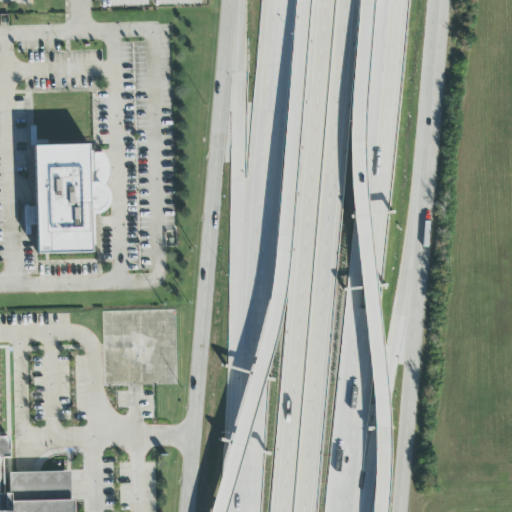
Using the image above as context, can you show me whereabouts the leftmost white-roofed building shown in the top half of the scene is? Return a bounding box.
[25,125,113,252]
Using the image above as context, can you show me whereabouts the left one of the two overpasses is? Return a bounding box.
[212,0,311,512]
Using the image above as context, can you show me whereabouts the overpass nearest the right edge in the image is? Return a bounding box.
[344,0,396,512]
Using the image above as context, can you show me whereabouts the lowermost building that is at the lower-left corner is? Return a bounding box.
[0,470,76,512]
